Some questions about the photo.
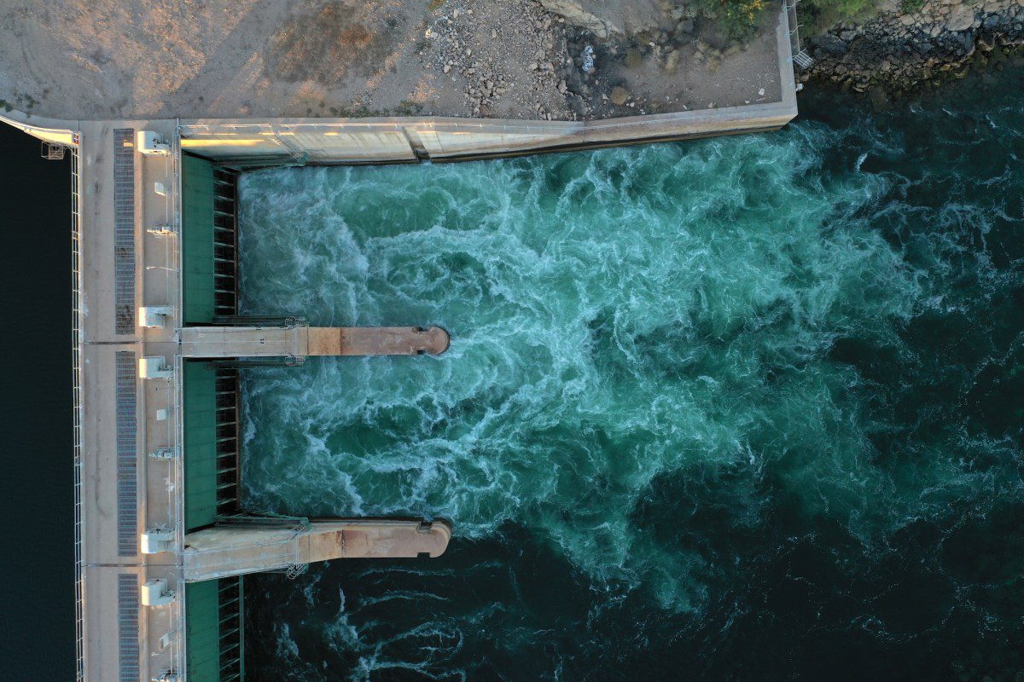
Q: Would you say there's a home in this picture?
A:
No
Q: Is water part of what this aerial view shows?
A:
Yes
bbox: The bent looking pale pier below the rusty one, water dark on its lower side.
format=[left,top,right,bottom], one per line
[184,519,452,581]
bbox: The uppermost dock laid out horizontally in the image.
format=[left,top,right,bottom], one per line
[183,326,452,356]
